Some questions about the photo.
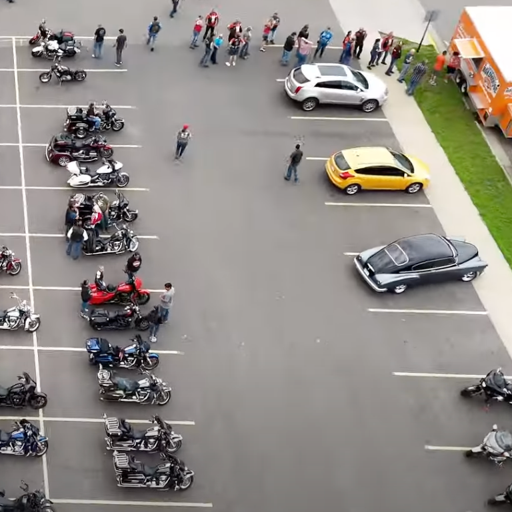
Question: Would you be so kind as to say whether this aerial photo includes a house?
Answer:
No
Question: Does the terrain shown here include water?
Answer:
No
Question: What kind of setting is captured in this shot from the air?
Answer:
parking lot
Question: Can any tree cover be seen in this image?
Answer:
No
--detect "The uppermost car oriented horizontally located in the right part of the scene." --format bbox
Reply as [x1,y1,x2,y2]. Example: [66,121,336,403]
[283,61,391,111]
